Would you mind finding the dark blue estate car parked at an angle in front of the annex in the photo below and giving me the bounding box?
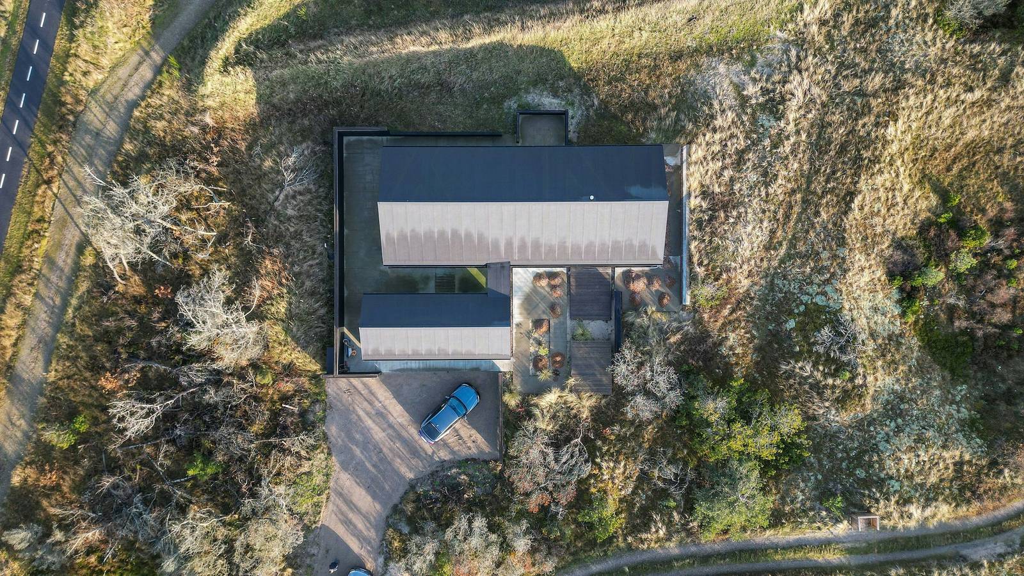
[418,382,481,447]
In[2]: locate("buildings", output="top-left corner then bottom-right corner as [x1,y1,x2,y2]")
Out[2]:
[359,145,670,362]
